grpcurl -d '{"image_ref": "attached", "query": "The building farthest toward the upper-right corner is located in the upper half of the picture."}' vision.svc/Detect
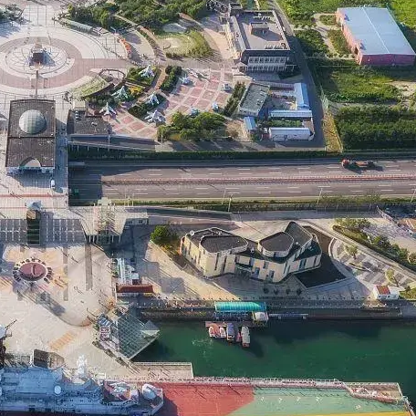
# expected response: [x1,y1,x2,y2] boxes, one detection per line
[334,6,415,67]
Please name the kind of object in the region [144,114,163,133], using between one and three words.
airplane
